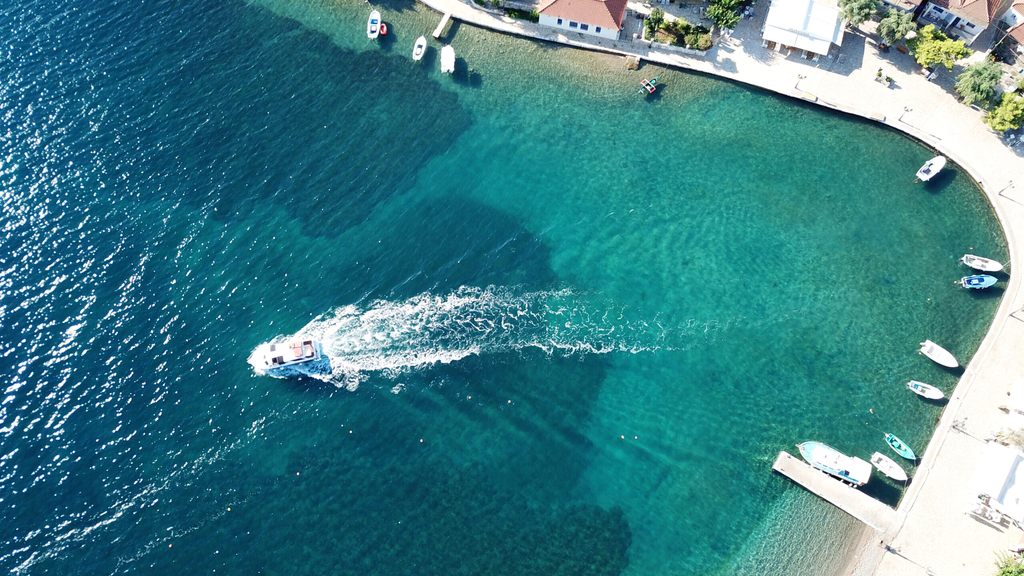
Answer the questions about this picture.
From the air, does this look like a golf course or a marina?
marina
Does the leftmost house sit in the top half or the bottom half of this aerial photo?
top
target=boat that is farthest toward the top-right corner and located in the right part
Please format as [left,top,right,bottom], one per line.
[915,150,946,184]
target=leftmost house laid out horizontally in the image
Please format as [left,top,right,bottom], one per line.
[535,0,635,40]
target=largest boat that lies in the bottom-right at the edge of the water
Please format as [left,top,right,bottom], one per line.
[792,441,876,490]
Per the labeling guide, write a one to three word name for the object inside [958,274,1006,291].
boat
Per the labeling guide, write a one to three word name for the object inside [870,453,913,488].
boat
